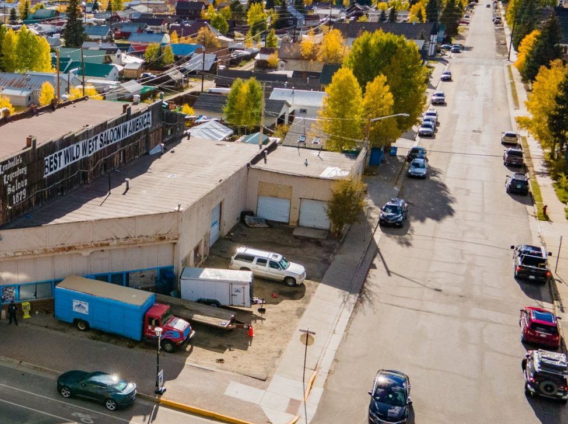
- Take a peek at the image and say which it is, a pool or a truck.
truck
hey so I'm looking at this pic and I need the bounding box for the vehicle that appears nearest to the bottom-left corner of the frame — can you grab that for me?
[54,370,139,414]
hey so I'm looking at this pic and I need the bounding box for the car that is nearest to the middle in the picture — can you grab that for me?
[228,243,301,284]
